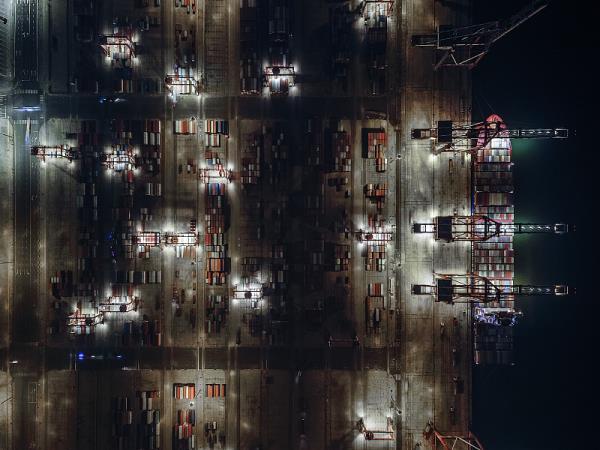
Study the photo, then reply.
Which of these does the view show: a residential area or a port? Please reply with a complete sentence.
It's a port.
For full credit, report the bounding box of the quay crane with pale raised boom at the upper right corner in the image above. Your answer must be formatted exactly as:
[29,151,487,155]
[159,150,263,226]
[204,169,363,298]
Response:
[411,0,554,76]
